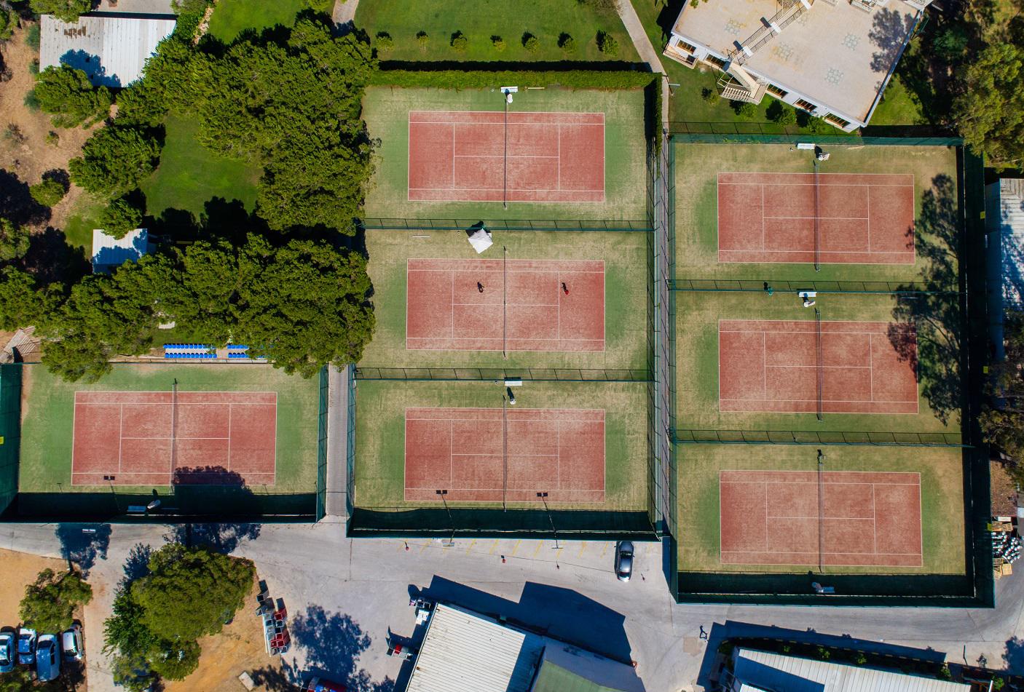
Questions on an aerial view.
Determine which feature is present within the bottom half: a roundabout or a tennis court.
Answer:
tennis court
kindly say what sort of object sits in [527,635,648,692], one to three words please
building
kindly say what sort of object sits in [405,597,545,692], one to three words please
building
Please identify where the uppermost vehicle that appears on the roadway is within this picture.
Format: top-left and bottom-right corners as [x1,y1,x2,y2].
[615,541,634,582]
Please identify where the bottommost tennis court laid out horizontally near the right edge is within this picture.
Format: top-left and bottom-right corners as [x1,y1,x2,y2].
[669,442,976,597]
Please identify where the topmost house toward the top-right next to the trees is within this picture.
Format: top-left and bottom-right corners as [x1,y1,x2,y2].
[662,0,928,134]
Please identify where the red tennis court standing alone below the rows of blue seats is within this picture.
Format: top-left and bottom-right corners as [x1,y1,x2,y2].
[18,364,321,516]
